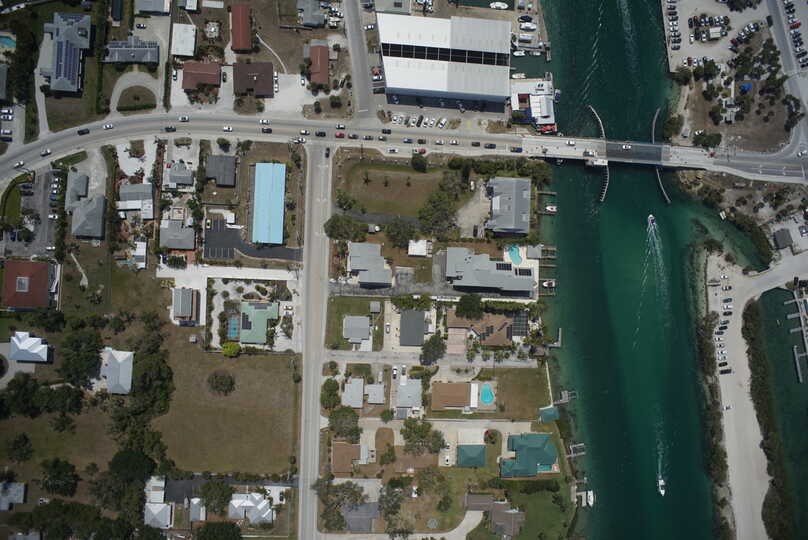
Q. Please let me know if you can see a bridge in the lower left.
No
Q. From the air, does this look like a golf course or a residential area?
residential area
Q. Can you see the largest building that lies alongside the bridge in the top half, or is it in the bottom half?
top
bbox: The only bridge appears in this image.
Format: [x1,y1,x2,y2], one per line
[522,135,718,167]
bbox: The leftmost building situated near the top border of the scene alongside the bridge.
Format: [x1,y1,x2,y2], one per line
[377,13,511,104]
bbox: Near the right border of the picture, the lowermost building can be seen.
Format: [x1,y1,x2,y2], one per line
[768,230,793,249]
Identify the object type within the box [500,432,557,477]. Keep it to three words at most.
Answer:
house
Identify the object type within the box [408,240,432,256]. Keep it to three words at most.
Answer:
building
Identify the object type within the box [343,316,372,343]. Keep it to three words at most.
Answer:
house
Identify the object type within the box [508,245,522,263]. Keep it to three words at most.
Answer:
swimming pool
